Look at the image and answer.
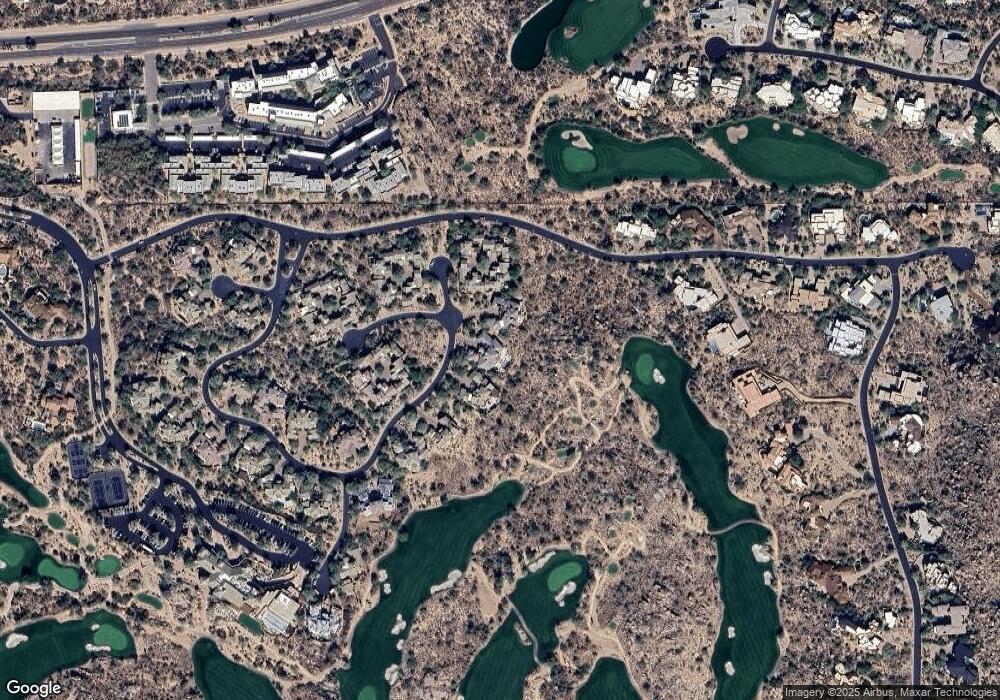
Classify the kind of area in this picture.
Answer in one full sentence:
What you see here is a residential area.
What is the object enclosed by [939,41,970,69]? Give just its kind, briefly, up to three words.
house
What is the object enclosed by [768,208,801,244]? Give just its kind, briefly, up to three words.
house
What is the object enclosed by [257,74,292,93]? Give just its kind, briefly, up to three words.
building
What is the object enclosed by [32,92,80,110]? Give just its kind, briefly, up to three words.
shed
